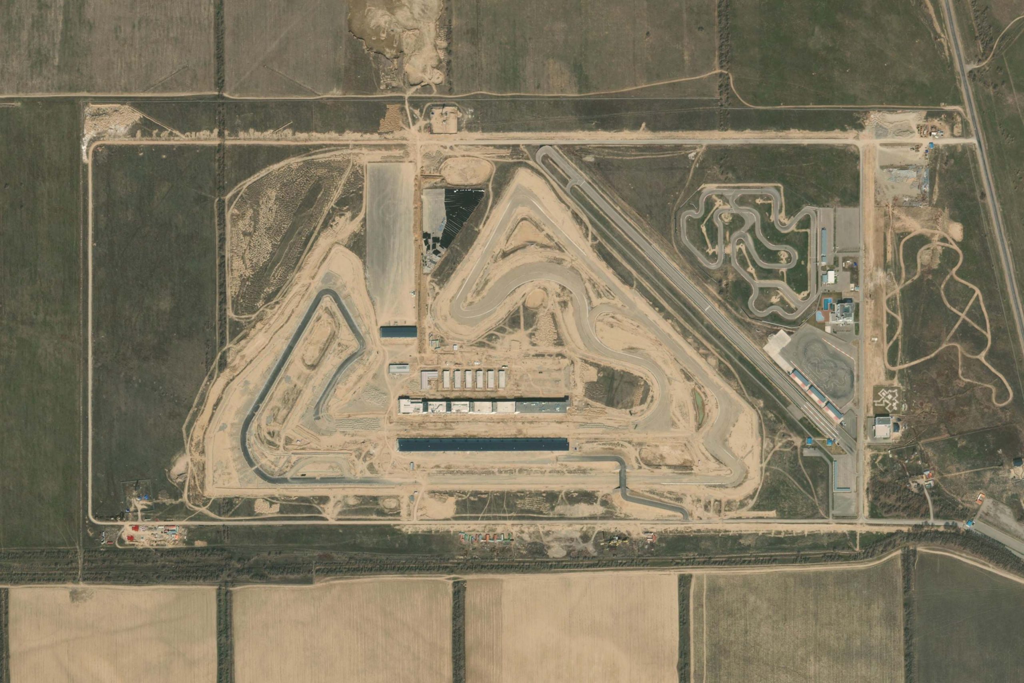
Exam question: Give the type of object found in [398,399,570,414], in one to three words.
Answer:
building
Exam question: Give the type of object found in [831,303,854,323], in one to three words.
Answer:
building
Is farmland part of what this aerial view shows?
Yes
